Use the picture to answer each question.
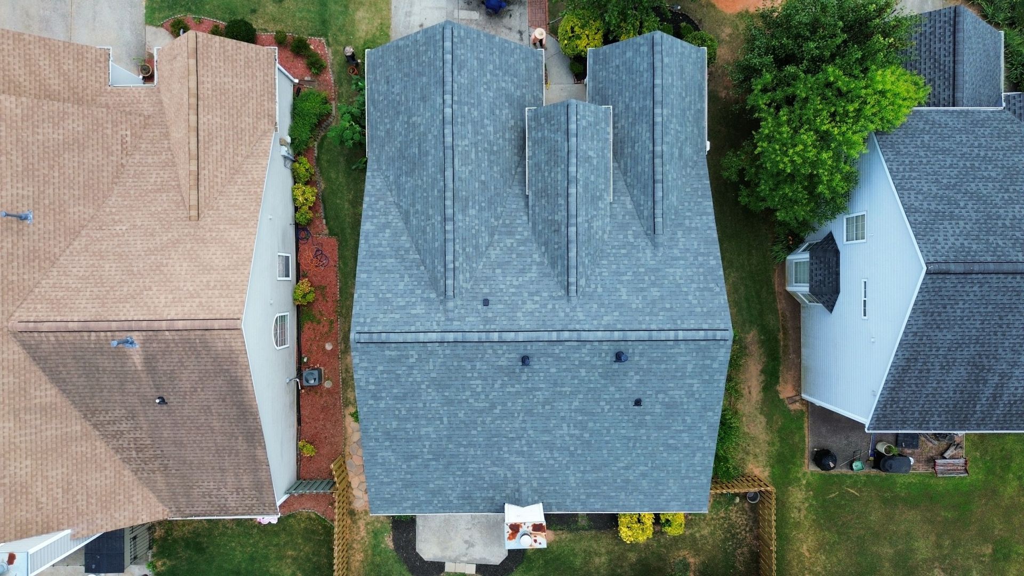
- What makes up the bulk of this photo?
buildings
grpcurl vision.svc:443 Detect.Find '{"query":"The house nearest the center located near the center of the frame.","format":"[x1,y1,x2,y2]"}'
[351,24,733,548]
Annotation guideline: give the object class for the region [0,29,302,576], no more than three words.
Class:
house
